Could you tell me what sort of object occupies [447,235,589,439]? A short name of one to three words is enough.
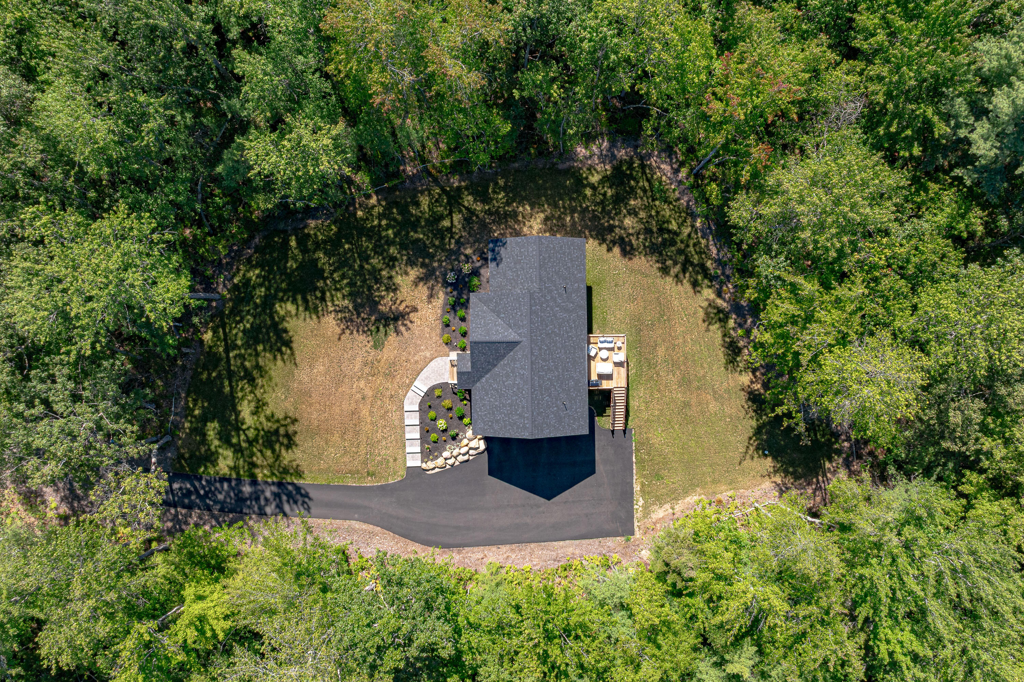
house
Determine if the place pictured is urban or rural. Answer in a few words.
rural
